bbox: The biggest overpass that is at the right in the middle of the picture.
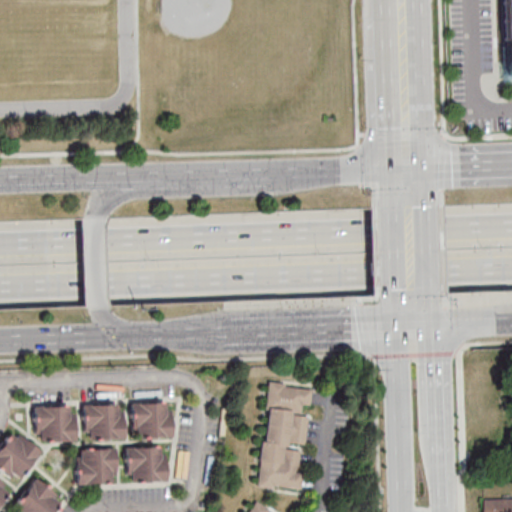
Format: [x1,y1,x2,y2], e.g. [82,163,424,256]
[372,204,447,296]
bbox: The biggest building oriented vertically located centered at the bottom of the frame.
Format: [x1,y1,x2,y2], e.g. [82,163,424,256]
[262,383,314,492]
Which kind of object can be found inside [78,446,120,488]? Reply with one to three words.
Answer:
house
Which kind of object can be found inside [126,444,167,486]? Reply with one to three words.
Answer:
house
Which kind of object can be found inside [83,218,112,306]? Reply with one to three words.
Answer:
overpass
